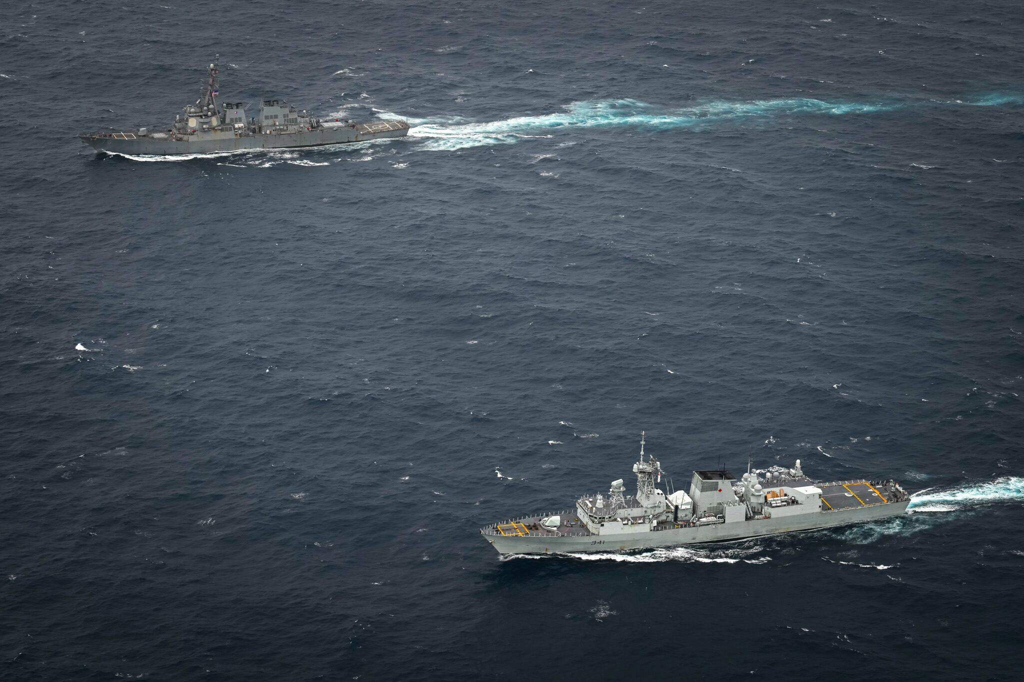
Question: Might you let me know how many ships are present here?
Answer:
2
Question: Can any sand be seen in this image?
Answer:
No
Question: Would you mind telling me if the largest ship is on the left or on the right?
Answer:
right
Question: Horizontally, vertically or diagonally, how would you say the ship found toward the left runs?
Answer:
horizontally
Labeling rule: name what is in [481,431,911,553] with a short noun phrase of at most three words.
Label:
ship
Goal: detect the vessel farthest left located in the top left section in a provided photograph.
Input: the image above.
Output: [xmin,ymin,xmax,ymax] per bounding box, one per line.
[81,56,411,155]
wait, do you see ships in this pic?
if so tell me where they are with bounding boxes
[481,431,911,553]
[81,56,411,155]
